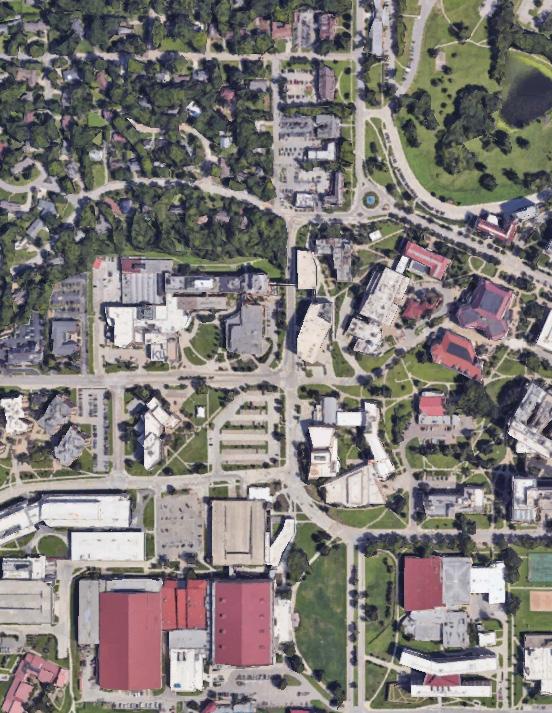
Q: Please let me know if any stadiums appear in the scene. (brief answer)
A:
Yes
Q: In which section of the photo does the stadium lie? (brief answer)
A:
bottom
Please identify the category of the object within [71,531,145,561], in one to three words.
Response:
building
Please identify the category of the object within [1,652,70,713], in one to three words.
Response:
house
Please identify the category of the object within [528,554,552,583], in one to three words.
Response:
tennis court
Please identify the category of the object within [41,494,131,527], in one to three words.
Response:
building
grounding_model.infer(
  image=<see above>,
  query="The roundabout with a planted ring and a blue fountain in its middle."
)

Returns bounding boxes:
[349,169,393,223]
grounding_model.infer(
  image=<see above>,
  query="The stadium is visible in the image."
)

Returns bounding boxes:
[212,501,269,565]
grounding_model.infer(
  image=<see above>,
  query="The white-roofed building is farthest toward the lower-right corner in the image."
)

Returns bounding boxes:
[523,634,552,695]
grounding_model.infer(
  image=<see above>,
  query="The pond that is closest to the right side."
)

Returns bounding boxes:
[500,53,552,127]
